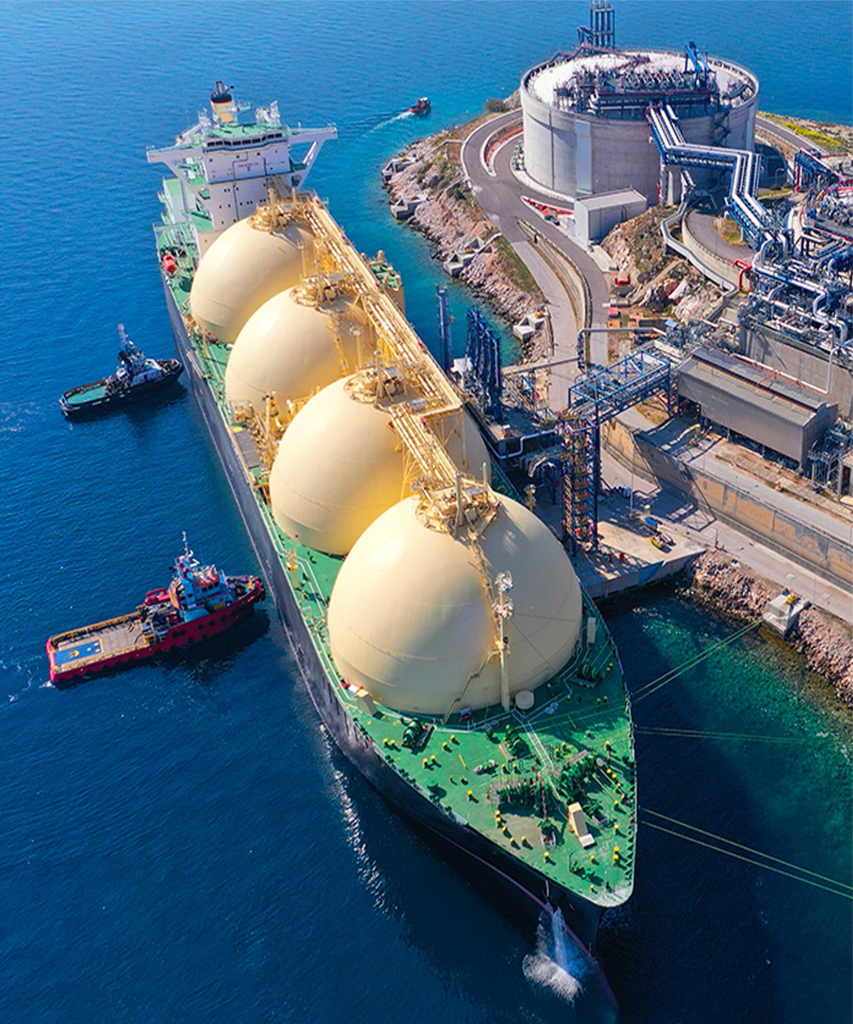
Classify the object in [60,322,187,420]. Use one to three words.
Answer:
boat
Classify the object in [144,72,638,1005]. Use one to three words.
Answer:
ship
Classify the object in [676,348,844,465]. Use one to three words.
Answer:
shed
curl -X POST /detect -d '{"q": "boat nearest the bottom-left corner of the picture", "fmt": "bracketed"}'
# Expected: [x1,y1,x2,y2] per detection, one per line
[46,523,271,684]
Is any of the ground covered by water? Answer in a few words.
Yes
